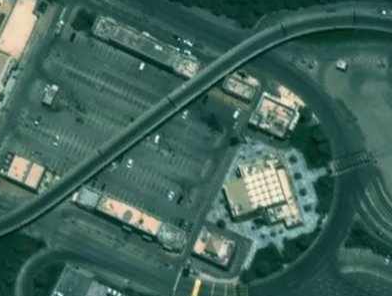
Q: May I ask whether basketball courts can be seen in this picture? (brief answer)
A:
No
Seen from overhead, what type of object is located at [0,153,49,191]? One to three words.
building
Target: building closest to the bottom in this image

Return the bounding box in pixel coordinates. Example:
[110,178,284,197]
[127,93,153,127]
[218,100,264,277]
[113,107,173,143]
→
[192,227,237,266]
